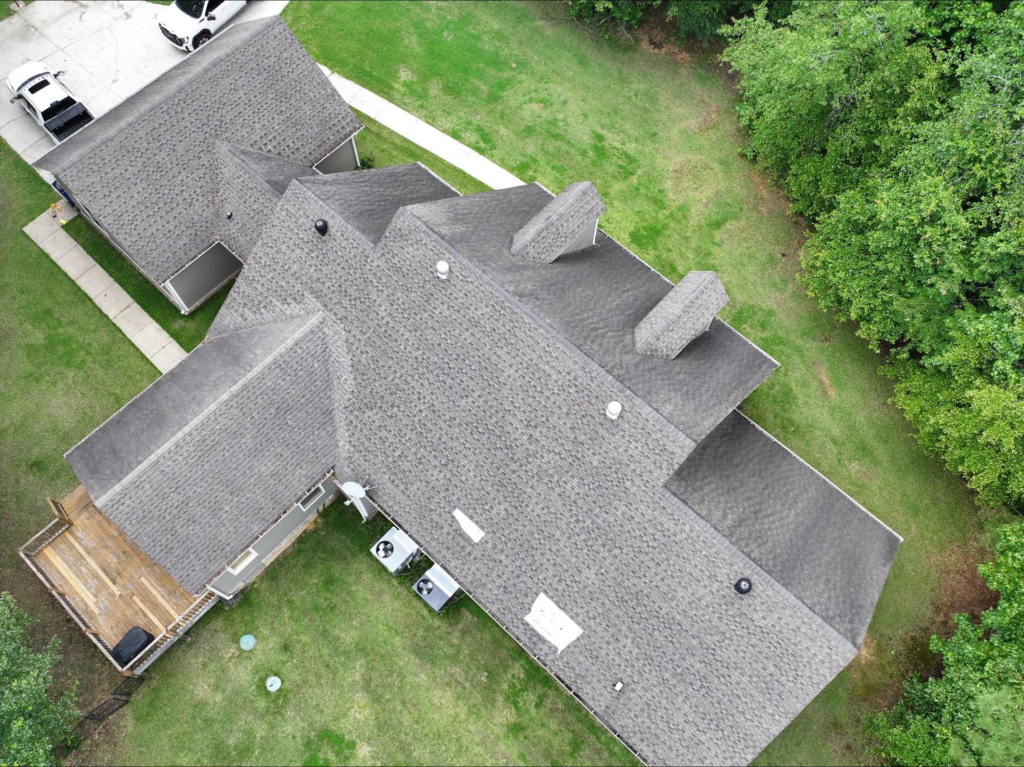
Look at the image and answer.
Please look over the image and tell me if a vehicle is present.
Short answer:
Yes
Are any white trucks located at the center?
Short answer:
No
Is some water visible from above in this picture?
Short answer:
No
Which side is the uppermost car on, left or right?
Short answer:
left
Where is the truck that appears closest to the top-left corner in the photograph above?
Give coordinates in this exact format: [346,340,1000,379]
[4,62,94,145]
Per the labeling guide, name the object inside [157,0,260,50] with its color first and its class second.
white car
